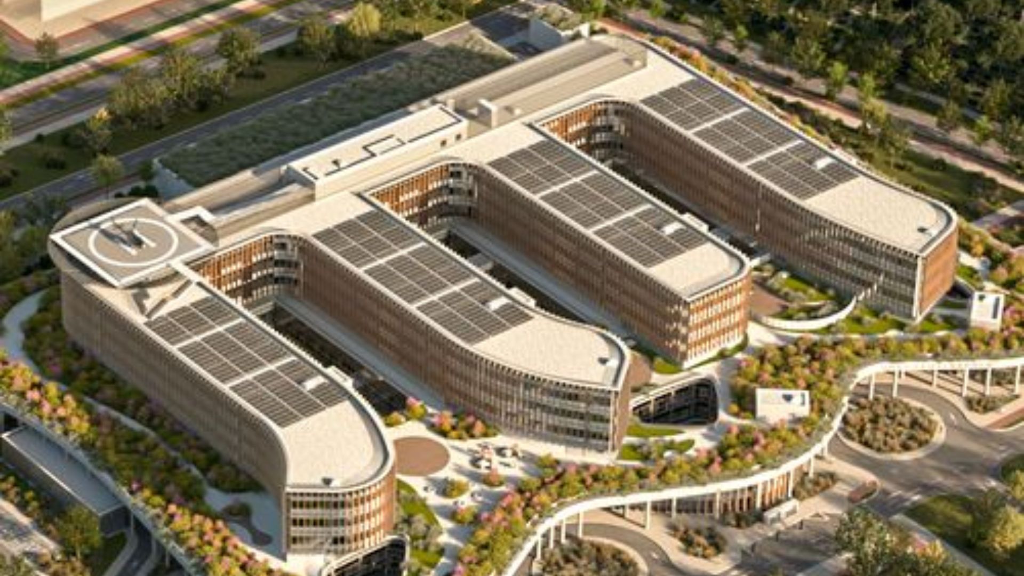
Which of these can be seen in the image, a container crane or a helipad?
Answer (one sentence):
Of the two, only a helipad appears.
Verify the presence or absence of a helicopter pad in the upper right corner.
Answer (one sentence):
No, I see no helicopter pad in the upper right corner.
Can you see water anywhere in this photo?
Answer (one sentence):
No, there is no water in the image.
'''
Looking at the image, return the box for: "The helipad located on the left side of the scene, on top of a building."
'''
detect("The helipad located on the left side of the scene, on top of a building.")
[62,202,208,282]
